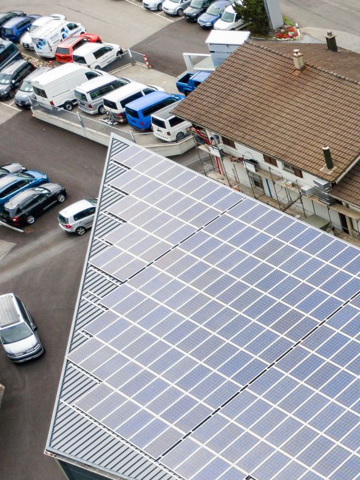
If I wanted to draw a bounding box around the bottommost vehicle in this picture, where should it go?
[0,299,43,365]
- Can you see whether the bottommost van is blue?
No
